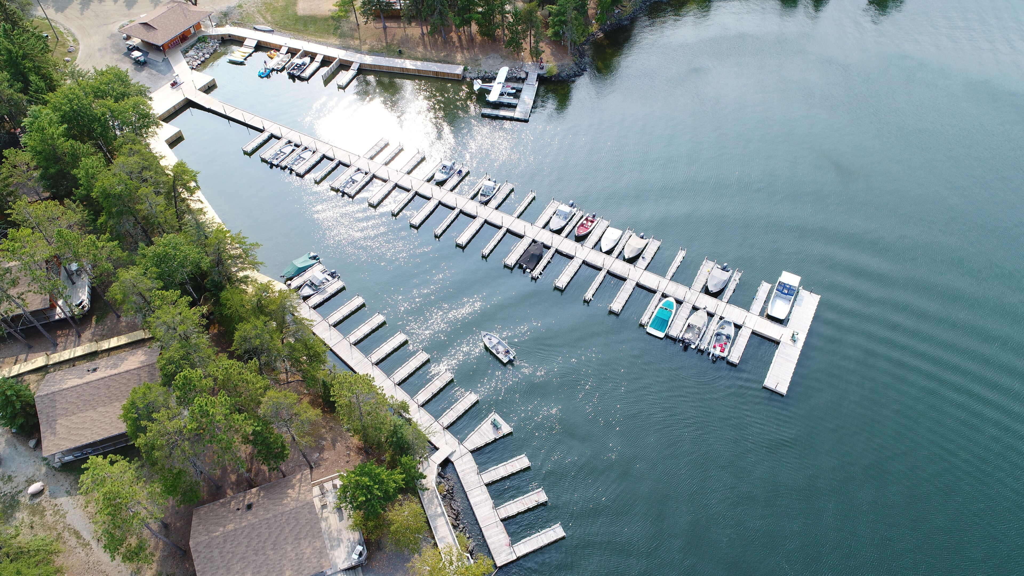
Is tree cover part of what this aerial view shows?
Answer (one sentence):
Yes, there's tree cover in this view.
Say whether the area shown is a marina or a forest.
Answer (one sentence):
This image shows a marina.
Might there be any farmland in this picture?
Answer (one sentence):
No, there's no farmland in this view.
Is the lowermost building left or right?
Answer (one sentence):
You can find the lowermost building on the left side of the picture.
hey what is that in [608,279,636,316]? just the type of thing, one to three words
pier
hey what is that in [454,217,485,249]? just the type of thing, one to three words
pier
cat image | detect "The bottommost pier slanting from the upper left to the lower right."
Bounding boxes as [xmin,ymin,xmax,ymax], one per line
[297,302,518,567]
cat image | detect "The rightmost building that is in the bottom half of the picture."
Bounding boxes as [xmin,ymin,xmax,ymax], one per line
[189,470,333,576]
